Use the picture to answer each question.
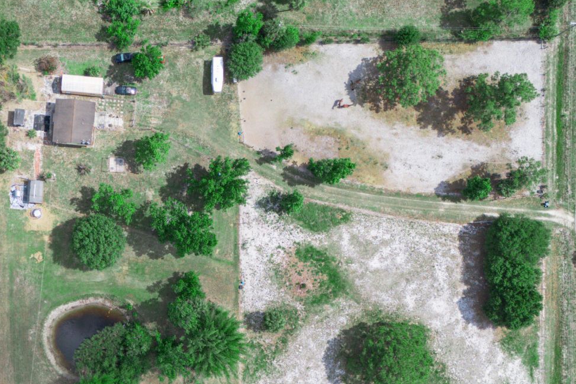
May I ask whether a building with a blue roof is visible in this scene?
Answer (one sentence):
No, there isn't any building with a blue roof down there.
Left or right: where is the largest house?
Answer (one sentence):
The largest house sits on the left side.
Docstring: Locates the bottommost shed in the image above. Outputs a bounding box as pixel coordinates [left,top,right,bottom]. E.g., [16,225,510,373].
[29,180,44,204]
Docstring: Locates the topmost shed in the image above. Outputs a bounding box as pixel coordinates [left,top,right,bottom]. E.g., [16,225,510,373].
[61,75,103,98]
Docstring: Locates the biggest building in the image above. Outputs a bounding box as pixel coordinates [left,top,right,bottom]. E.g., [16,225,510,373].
[52,99,95,146]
